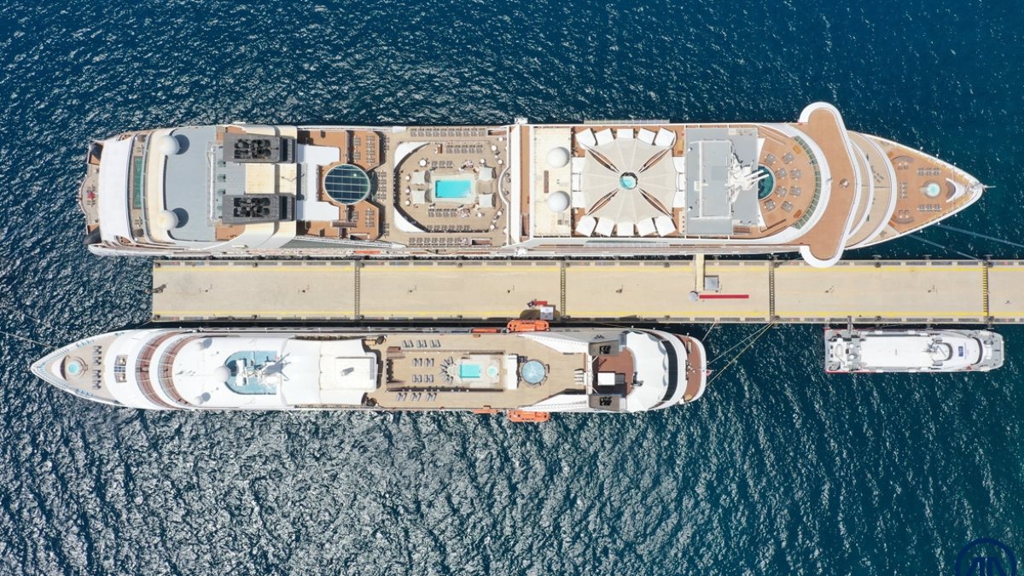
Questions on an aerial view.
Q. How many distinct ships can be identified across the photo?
3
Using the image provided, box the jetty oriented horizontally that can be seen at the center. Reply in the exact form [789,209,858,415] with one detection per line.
[153,259,1024,323]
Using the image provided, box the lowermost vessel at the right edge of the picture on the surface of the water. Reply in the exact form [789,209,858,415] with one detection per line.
[823,326,1005,374]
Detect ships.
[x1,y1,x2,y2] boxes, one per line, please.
[823,326,1005,374]
[80,103,995,268]
[29,326,707,416]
